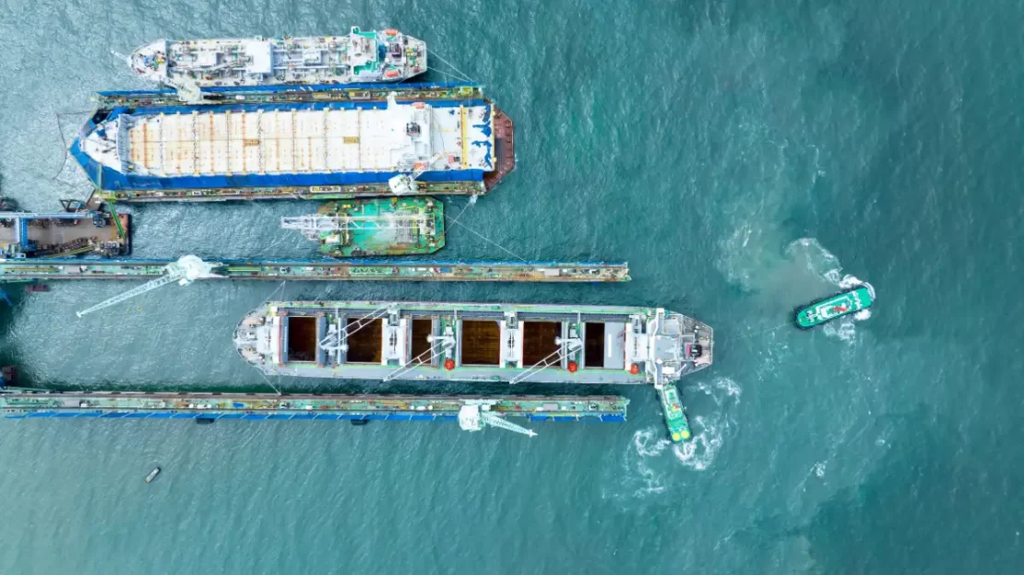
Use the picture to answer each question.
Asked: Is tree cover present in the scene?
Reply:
No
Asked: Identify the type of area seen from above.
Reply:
port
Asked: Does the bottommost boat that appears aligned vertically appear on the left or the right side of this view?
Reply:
right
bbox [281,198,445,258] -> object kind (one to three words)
ship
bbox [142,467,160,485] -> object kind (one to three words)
boat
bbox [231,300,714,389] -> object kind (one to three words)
ship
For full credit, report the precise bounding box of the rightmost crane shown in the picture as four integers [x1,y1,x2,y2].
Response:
[459,394,536,439]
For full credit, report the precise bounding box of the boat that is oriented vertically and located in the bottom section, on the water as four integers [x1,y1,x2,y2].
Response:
[660,381,692,445]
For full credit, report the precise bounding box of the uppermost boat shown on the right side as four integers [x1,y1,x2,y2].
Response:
[798,286,876,327]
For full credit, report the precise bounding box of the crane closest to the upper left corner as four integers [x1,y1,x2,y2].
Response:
[156,69,226,108]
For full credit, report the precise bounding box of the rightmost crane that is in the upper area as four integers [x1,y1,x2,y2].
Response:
[390,150,444,199]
